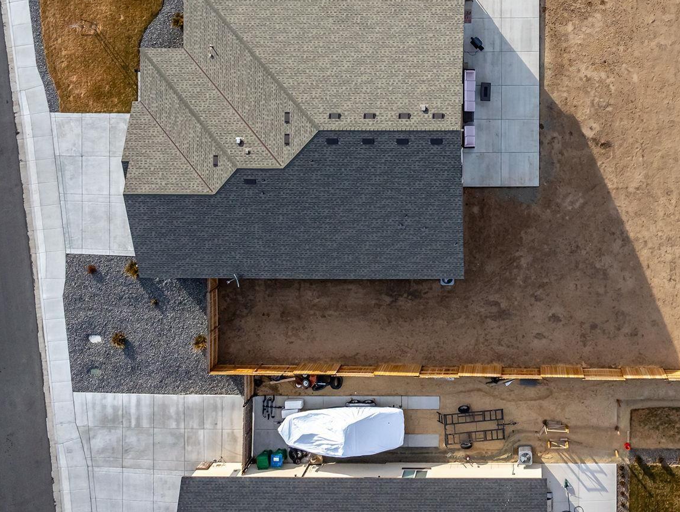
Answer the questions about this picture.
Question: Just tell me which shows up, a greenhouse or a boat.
boat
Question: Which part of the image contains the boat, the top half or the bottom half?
bottom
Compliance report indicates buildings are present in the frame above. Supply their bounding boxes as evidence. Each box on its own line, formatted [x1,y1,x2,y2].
[122,0,465,288]
[175,461,550,512]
